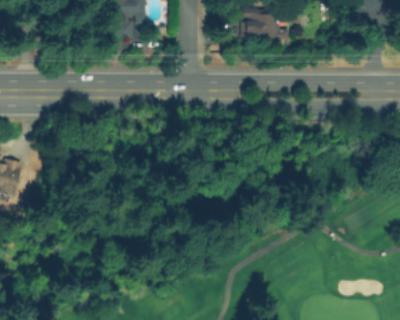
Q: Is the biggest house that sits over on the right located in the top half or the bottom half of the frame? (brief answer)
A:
top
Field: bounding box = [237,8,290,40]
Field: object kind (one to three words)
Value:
house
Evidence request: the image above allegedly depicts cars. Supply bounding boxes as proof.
[173,86,184,90]
[132,42,144,48]
[147,42,159,47]
[82,75,93,80]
